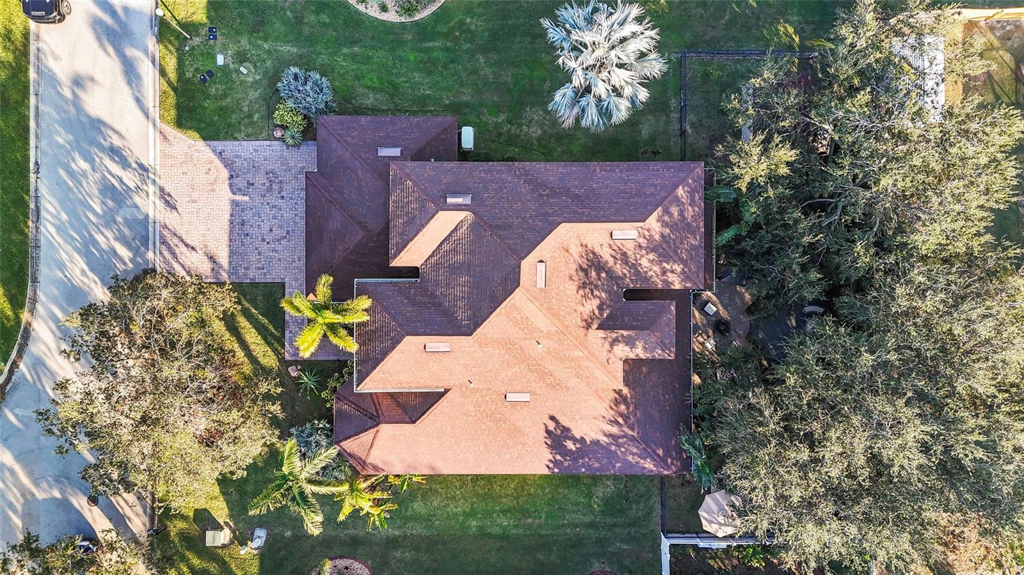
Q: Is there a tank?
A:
No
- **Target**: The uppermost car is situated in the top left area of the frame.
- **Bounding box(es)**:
[23,0,76,24]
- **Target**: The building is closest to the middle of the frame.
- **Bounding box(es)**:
[303,114,719,477]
